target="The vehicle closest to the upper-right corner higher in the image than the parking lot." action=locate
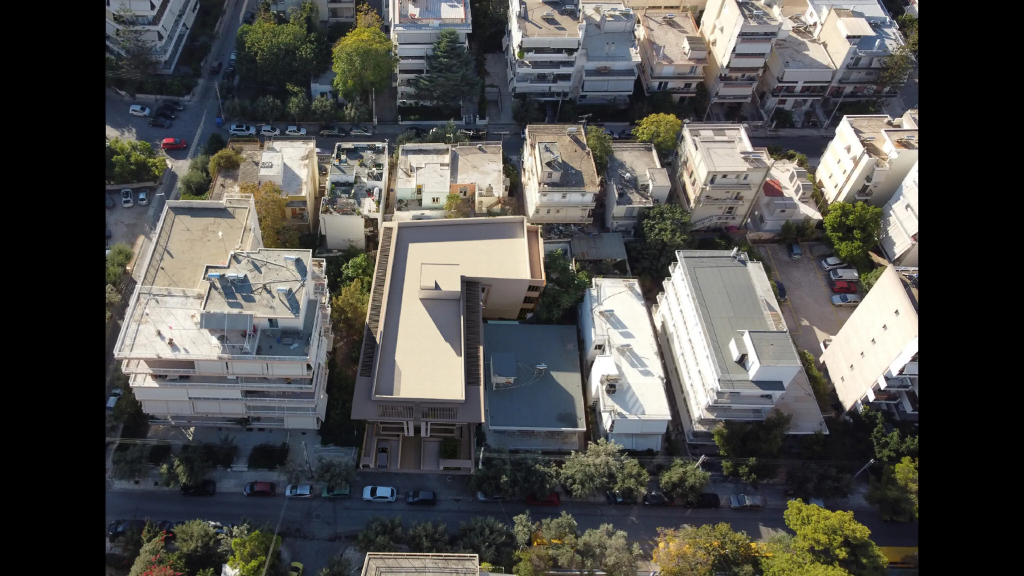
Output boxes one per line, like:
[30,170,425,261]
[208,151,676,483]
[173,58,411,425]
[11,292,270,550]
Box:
[807,111,819,128]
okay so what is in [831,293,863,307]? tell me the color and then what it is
gray car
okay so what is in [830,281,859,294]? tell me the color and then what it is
red vehicle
